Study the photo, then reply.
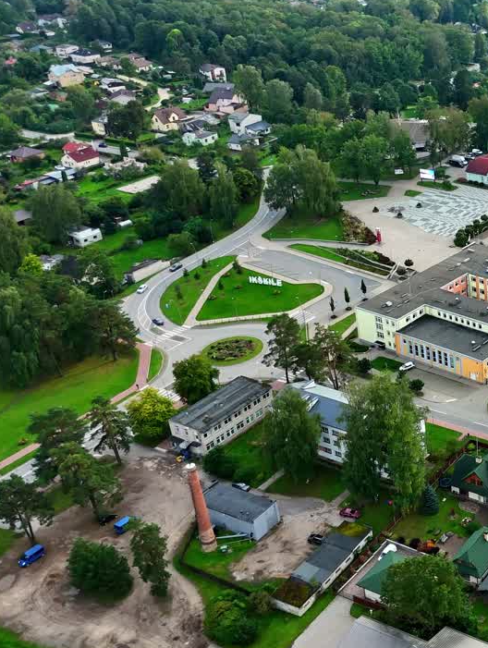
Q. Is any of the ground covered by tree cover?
Yes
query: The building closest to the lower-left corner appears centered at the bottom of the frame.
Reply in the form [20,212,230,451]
[194,475,284,538]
